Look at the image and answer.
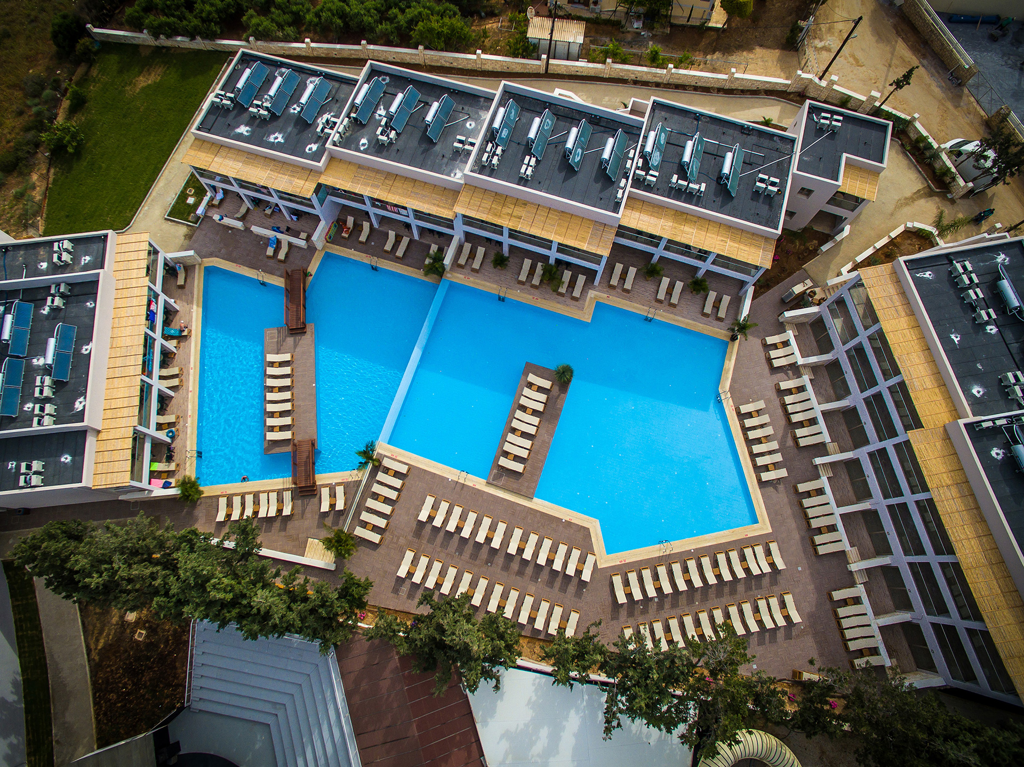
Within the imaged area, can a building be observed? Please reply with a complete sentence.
Yes, a building can be made out from above.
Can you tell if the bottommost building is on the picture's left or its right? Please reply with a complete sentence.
You can find the bottommost building on the right side of the picture.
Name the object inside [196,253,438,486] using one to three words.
swimming pool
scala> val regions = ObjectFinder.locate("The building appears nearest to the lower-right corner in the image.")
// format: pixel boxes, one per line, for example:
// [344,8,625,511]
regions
[839,406,1024,711]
